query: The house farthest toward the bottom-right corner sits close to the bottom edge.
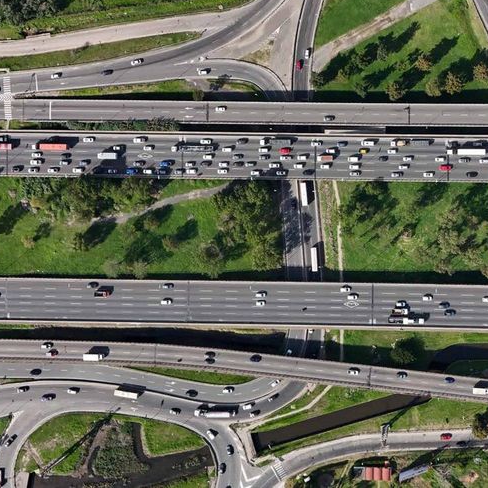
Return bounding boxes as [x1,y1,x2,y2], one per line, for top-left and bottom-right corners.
[365,468,392,486]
